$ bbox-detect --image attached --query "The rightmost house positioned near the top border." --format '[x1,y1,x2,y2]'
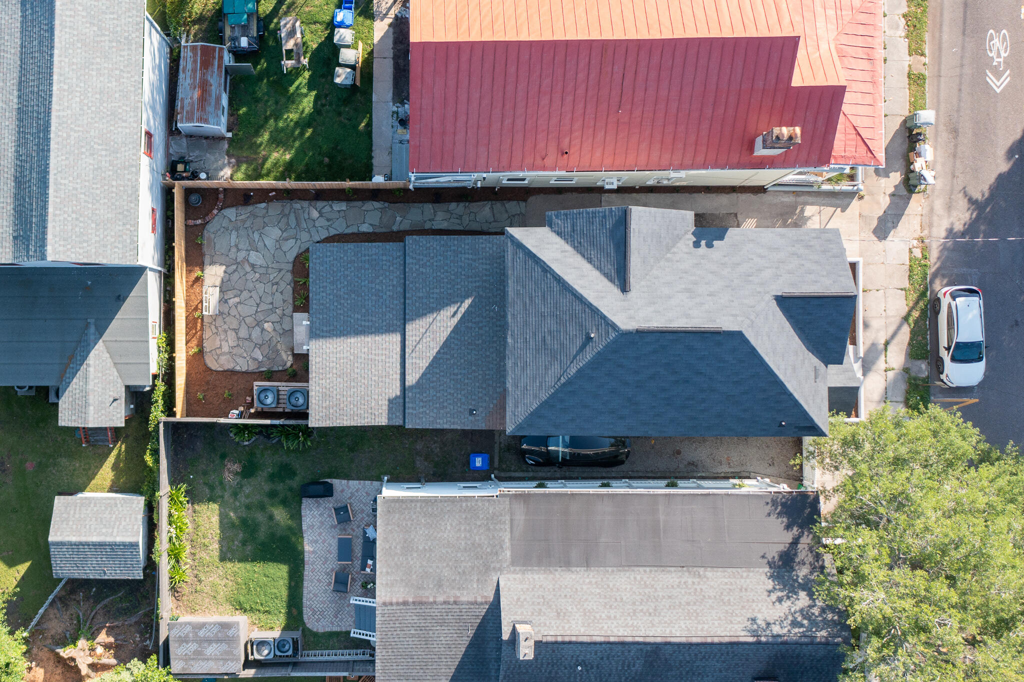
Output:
[405,0,889,196]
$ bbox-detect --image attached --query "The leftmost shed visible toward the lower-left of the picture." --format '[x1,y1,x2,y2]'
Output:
[48,487,156,579]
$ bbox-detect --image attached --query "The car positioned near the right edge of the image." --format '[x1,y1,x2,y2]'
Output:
[932,288,989,387]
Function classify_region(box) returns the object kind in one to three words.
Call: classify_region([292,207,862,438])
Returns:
house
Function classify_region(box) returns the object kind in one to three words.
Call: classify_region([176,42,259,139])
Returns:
shed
